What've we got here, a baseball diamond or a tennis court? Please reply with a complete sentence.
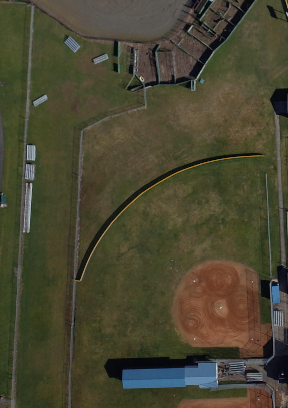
Looking from above, you can make out a baseball diamond.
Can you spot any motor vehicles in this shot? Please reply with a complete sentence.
No, there isn't any motor vehicle down there.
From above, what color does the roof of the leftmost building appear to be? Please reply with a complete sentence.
The roof of the leftmost building is blue.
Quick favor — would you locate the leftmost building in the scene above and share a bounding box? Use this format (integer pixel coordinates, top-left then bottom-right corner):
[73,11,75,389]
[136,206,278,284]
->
[122,365,186,389]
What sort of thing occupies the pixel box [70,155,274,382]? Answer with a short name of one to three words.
baseball field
